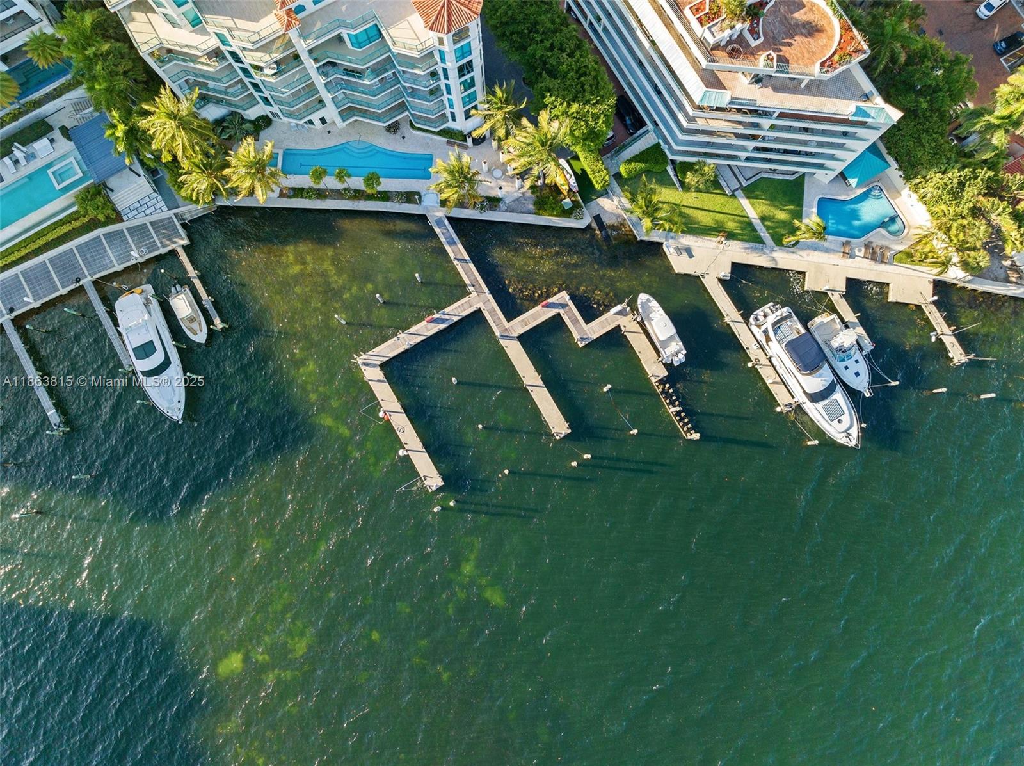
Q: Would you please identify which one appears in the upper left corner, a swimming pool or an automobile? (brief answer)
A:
swimming pool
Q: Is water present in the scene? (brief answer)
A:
Yes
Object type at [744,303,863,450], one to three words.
boat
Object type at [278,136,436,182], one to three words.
swimming pool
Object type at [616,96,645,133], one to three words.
car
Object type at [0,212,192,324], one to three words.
pier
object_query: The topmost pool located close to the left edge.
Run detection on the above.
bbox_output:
[0,54,73,109]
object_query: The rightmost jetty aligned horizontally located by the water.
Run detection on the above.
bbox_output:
[662,243,934,307]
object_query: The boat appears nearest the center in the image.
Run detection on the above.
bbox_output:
[637,294,682,368]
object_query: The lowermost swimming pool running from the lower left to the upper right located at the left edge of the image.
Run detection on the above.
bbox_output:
[0,150,99,254]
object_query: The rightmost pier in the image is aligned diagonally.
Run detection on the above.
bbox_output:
[920,305,967,365]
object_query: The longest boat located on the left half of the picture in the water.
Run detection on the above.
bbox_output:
[114,286,189,426]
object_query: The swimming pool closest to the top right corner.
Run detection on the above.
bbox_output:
[814,180,908,241]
